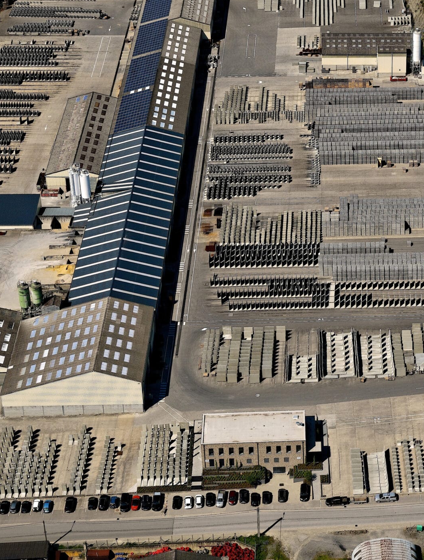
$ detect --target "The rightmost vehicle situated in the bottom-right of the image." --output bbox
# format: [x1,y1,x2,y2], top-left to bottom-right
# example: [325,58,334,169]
[374,492,397,504]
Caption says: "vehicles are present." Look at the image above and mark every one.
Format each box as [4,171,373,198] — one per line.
[325,496,349,507]
[97,495,109,512]
[130,498,140,513]
[216,493,226,510]
[142,495,152,512]
[374,492,397,504]
[20,501,30,515]
[108,497,118,511]
[172,497,182,511]
[86,497,96,511]
[0,502,10,516]
[30,500,41,514]
[278,488,287,505]
[183,497,192,511]
[239,489,248,506]
[151,492,162,513]
[263,492,271,506]
[227,493,237,508]
[119,493,130,513]
[299,483,309,504]
[250,494,259,508]
[205,494,215,509]
[41,500,51,515]
[193,496,203,510]
[8,499,20,516]
[64,495,75,515]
